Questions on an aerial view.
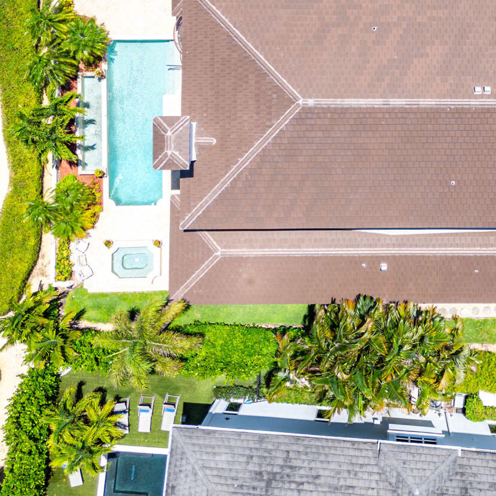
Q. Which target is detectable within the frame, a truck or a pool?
pool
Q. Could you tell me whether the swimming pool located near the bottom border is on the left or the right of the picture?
left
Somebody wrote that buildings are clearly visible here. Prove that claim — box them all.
[151,0,496,306]
[164,399,496,496]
